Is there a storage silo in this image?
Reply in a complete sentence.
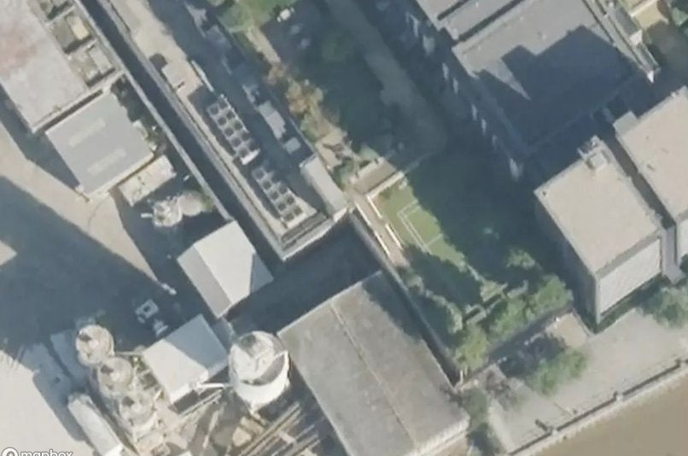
Yes, the image includes a storage silo.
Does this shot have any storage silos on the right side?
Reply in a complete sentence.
No, the scene shows no storage silo on the right side.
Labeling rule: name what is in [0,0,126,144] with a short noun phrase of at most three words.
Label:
building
